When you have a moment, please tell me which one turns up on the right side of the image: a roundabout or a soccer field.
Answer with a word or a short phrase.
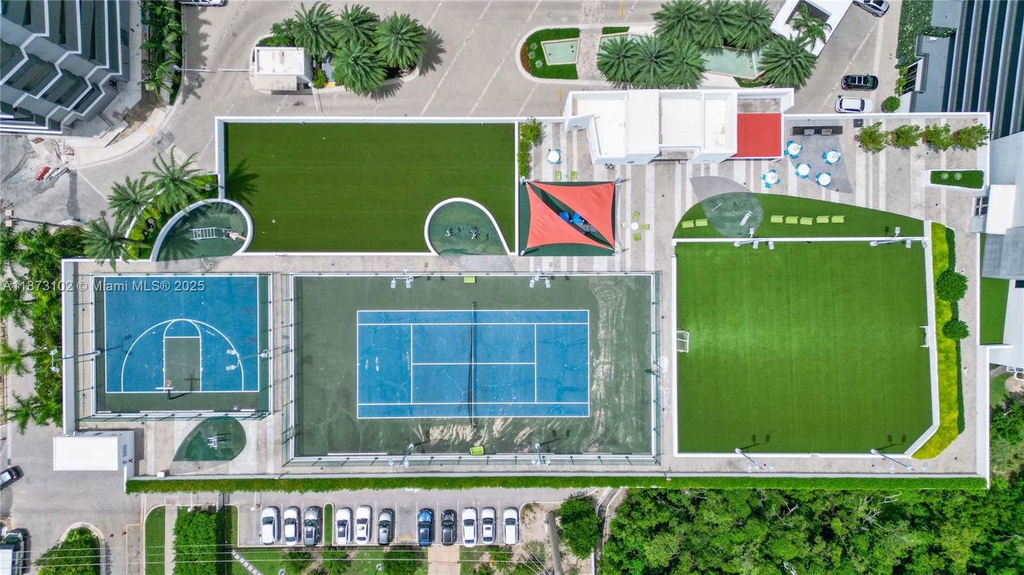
soccer field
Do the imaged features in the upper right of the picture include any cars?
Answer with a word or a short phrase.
Yes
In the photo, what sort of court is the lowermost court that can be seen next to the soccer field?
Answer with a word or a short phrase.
tennis court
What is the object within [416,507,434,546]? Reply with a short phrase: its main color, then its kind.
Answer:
blue car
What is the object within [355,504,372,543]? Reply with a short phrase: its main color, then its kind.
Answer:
white car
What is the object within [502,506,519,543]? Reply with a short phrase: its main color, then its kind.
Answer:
white car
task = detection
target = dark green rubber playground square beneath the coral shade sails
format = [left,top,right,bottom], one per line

[519,181,615,256]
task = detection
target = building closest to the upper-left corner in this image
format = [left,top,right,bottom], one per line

[0,0,131,137]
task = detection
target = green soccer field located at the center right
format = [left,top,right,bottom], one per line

[676,242,933,455]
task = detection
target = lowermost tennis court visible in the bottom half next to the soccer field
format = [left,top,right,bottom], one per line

[291,275,656,459]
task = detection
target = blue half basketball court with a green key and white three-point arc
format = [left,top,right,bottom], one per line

[92,274,269,417]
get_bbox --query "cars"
[838,73,877,92]
[335,507,353,545]
[282,505,301,545]
[261,505,280,544]
[377,508,394,545]
[439,509,456,546]
[480,505,497,543]
[502,506,519,543]
[852,0,890,19]
[302,506,321,545]
[832,95,872,114]
[355,504,372,543]
[0,464,24,490]
[416,507,434,546]
[461,506,478,546]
